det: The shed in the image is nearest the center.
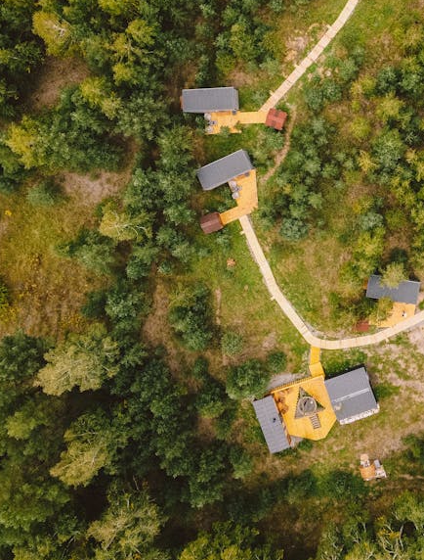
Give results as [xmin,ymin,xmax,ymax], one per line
[201,212,225,234]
